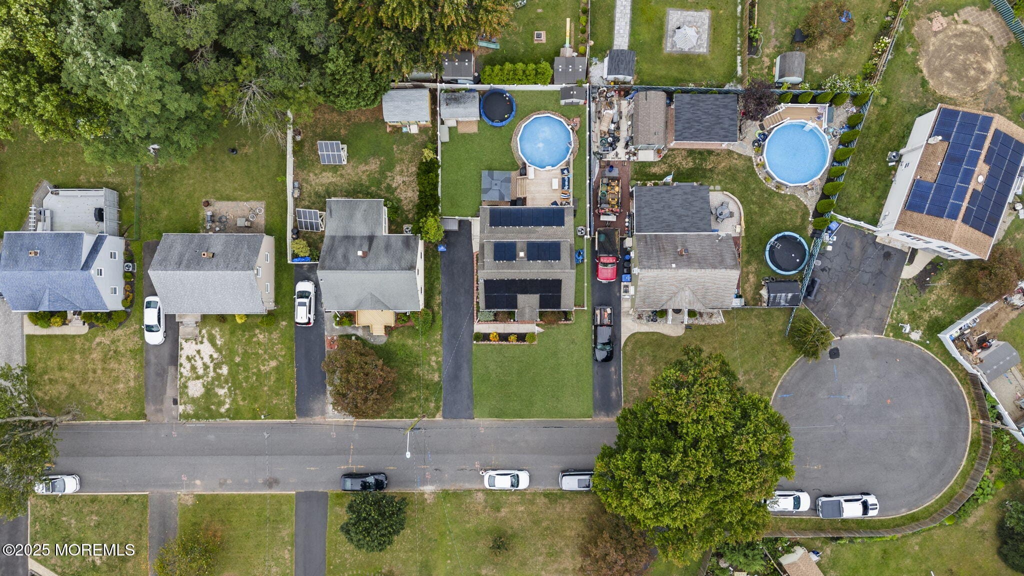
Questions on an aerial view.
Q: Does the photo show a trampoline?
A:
Yes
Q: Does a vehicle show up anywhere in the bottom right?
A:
Yes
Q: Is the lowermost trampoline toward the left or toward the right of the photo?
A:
right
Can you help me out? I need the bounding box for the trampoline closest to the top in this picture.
[480,89,516,128]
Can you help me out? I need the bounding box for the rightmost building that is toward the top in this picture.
[865,103,1024,271]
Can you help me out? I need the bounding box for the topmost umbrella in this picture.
[673,26,699,52]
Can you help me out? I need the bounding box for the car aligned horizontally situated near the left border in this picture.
[34,474,82,496]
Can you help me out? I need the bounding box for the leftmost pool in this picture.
[518,114,572,170]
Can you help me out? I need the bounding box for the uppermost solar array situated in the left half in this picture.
[318,141,354,165]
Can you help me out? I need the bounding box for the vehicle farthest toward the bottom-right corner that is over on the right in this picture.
[815,493,878,519]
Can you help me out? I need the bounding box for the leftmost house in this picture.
[0,232,123,313]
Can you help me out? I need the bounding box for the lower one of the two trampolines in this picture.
[763,229,814,275]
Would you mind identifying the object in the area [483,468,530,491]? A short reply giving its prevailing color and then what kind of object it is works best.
white car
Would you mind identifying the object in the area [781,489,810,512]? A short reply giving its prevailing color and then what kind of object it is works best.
white car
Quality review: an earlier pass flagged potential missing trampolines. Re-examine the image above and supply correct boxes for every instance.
[480,89,516,128]
[763,229,814,275]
